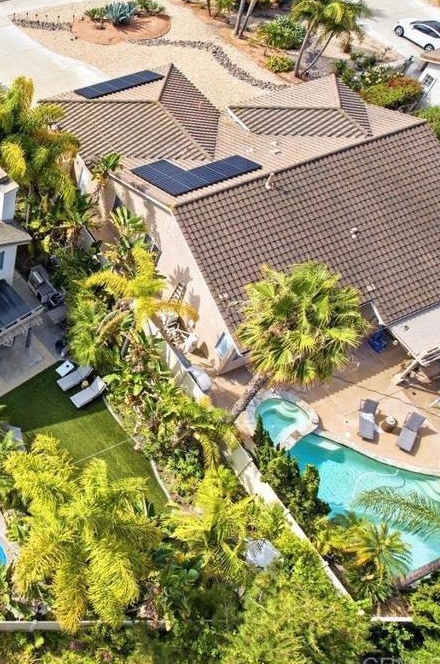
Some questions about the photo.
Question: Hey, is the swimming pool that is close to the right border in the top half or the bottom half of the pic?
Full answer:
The swimming pool that is close to the right border sits in the bottom half of the picture.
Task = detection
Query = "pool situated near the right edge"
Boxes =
[281,426,440,589]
